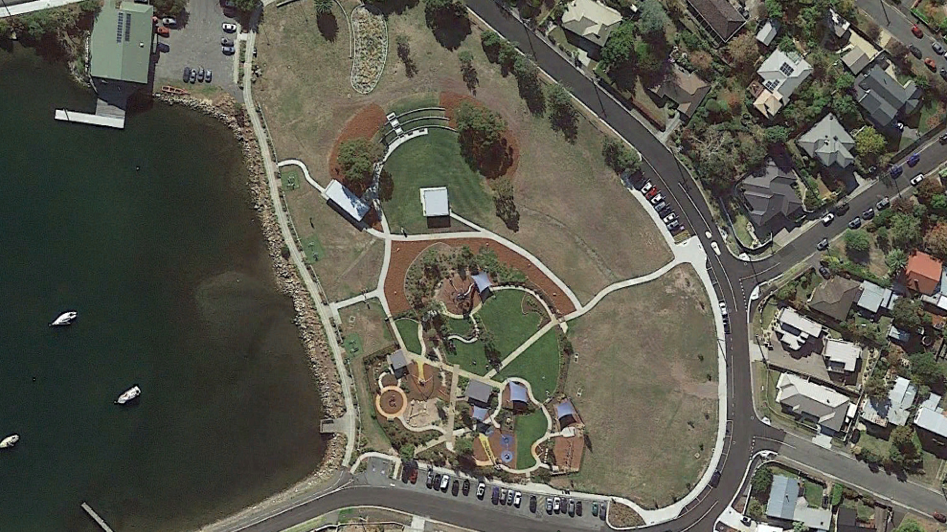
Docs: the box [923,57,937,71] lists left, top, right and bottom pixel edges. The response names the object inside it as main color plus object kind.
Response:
red vehicle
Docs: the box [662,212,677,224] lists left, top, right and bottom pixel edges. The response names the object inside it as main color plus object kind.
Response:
white vehicle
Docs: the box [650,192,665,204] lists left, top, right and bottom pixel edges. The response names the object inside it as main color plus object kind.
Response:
white vehicle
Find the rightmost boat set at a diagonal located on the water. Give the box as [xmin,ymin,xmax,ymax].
[116,383,140,402]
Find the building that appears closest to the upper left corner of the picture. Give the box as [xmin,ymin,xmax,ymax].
[91,0,154,81]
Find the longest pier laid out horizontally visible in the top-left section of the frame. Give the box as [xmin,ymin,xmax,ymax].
[55,108,125,129]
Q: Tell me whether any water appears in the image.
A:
Yes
